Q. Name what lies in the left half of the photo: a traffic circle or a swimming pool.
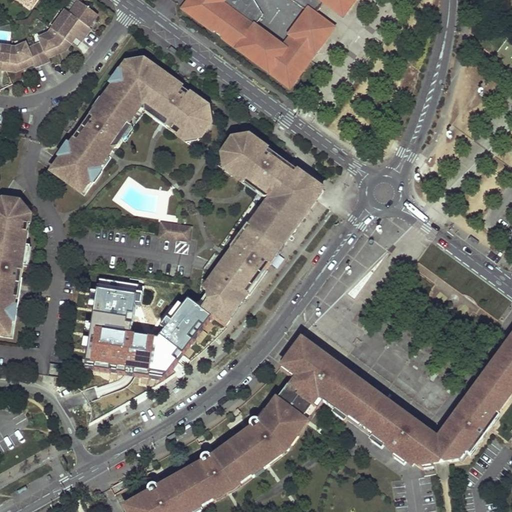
swimming pool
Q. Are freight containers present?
No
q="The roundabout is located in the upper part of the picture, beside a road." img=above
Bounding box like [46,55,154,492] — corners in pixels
[358,164,410,216]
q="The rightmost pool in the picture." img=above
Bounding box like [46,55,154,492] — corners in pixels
[112,176,178,222]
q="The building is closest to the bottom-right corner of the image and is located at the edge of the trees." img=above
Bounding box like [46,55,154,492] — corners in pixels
[278,330,512,480]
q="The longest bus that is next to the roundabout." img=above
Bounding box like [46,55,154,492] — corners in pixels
[404,198,430,224]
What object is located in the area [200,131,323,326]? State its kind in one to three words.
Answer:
house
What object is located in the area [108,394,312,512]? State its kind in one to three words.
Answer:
house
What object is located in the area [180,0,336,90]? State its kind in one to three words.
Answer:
building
